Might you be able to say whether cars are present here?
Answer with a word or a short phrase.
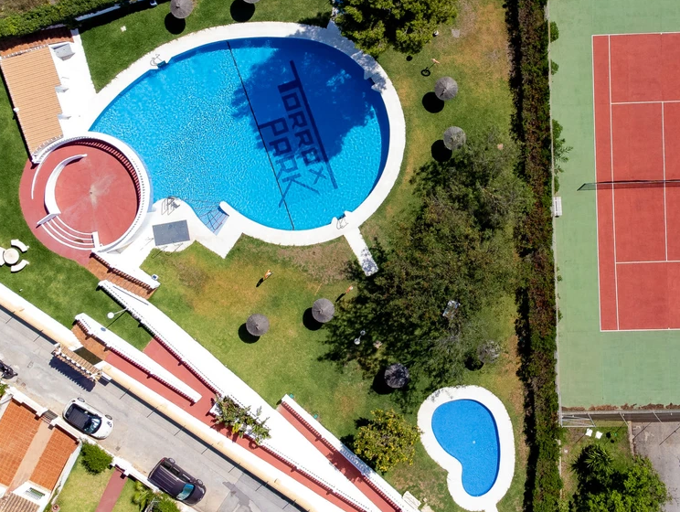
Yes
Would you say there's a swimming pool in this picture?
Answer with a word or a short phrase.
Yes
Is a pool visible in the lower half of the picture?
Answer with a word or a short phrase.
Yes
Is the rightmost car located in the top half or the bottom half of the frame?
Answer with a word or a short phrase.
bottom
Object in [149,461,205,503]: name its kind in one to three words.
car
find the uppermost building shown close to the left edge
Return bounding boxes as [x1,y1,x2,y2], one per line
[0,28,86,156]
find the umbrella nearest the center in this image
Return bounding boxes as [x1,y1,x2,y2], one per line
[309,297,336,321]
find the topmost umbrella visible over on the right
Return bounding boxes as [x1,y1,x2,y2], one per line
[433,76,457,102]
